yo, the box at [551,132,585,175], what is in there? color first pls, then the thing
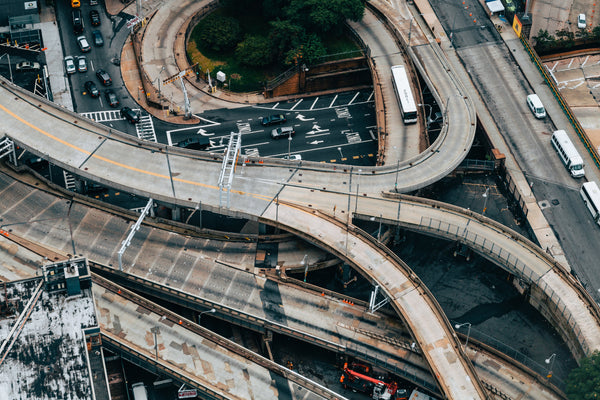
white vehicle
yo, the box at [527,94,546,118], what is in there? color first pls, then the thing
white vehicle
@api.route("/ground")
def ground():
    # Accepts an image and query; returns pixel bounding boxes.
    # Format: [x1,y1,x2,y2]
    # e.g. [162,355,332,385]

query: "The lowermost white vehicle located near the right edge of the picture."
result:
[578,182,600,225]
